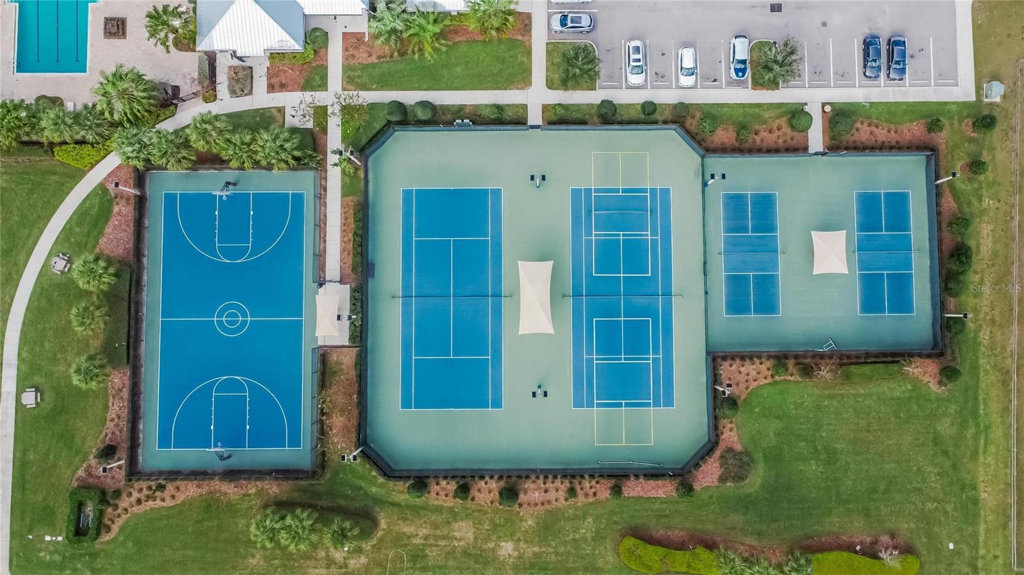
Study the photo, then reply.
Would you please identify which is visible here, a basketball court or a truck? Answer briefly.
basketball court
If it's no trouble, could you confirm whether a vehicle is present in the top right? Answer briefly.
Yes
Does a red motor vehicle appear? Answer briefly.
No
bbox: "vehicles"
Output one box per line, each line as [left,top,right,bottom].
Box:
[625,40,647,86]
[677,47,699,88]
[885,36,910,81]
[729,35,751,80]
[861,35,885,78]
[550,11,593,34]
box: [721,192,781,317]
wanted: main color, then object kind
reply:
blue sports court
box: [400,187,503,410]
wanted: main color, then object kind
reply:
blue tennis court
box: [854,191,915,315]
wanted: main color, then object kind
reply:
blue sports court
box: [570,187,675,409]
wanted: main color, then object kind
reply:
blue tennis court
